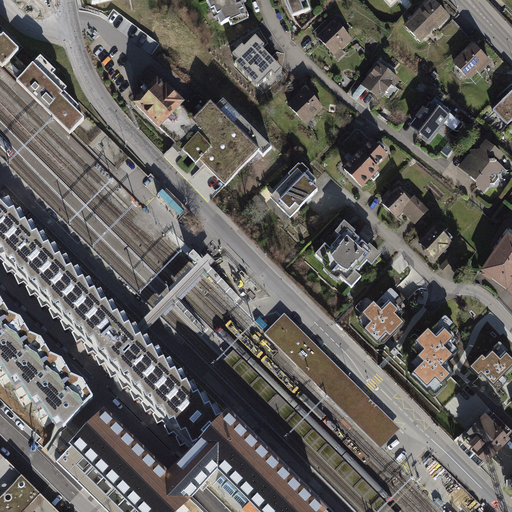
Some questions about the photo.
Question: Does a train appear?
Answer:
Yes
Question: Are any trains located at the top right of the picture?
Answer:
No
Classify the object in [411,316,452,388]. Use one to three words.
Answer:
building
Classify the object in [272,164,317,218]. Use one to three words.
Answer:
house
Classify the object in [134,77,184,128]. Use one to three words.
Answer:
house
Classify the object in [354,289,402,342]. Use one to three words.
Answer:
building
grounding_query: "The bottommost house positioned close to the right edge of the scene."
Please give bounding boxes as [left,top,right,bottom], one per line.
[452,412,512,468]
